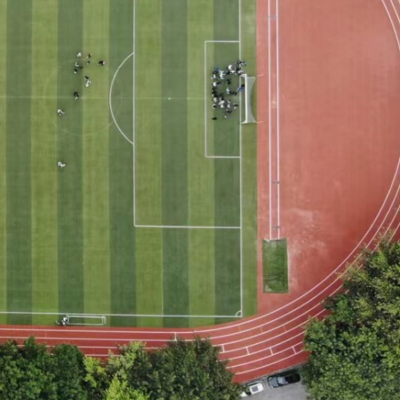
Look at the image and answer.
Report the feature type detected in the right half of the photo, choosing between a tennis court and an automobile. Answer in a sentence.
The feature located in the right half of the photo is an automobile.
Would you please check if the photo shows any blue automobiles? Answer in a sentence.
No, I can't see a single blue automobile in this photo.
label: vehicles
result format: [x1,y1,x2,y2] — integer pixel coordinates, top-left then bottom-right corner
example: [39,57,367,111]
[269,371,300,388]
[237,379,267,400]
